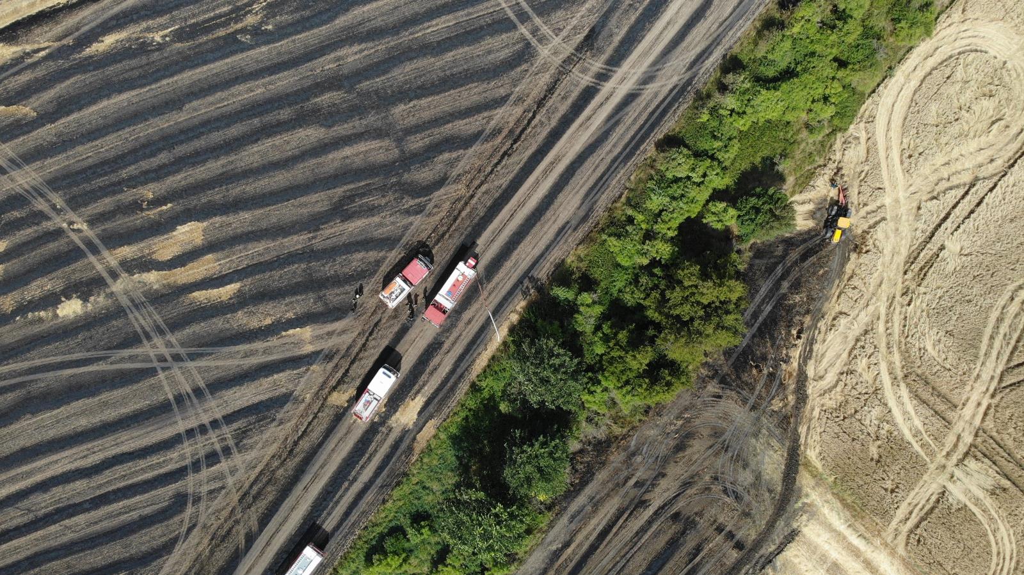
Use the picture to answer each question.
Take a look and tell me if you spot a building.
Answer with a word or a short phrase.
No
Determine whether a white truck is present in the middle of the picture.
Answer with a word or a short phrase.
Yes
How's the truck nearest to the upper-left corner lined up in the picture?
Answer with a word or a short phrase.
diagonally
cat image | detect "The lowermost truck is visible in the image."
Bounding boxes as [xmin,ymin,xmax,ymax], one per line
[286,541,326,575]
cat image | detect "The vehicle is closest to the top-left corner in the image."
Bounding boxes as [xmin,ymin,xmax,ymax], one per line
[380,257,432,308]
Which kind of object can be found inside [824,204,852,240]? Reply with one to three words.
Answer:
work vehicle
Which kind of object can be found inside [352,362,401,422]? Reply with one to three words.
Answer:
truck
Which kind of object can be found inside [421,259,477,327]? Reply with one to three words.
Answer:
truck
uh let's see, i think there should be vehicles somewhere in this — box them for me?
[824,204,852,240]
[380,257,432,308]
[352,362,401,422]
[421,259,477,327]
[286,541,326,575]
